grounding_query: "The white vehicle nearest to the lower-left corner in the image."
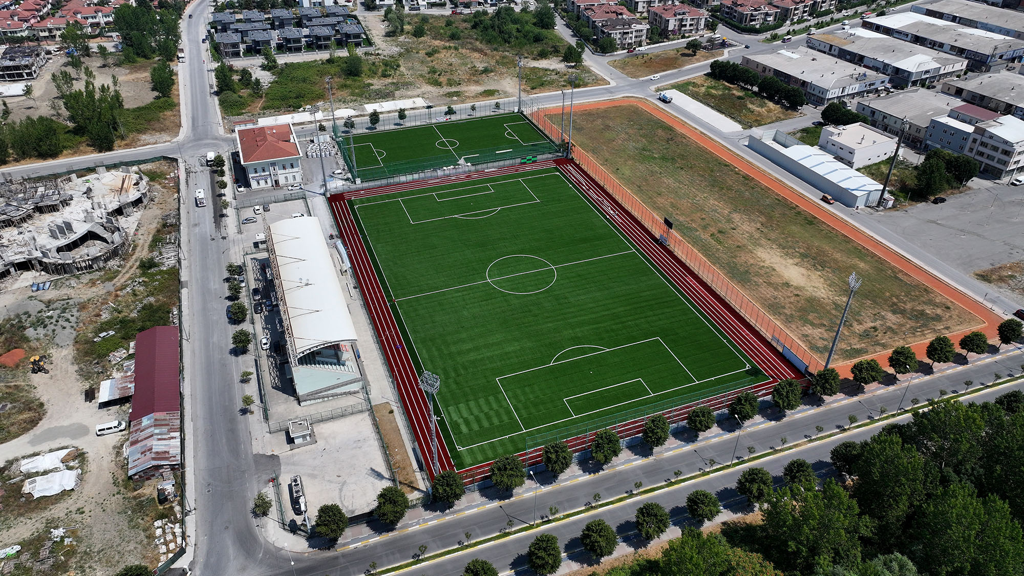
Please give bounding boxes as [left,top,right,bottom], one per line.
[94,420,124,437]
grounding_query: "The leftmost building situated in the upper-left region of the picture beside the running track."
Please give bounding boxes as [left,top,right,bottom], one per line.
[235,121,303,189]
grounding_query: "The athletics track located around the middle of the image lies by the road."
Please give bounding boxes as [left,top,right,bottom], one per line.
[327,156,811,498]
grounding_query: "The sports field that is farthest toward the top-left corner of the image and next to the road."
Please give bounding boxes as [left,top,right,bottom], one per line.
[342,112,554,179]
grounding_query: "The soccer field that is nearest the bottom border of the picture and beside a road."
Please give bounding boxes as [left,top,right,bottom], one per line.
[346,166,772,471]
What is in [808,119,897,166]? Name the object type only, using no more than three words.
building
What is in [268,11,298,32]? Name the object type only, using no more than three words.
house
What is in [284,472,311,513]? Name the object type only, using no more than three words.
truck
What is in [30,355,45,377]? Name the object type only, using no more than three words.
work vehicle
